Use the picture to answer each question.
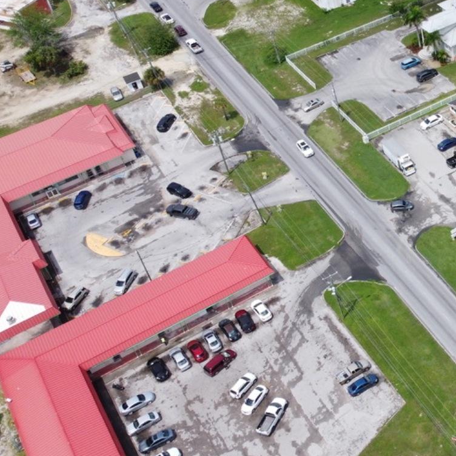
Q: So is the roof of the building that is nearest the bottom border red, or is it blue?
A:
red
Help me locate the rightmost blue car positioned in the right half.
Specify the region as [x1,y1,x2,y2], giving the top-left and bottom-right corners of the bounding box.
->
[438,136,456,151]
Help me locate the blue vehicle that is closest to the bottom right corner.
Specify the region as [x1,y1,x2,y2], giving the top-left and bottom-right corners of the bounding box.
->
[348,374,381,398]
